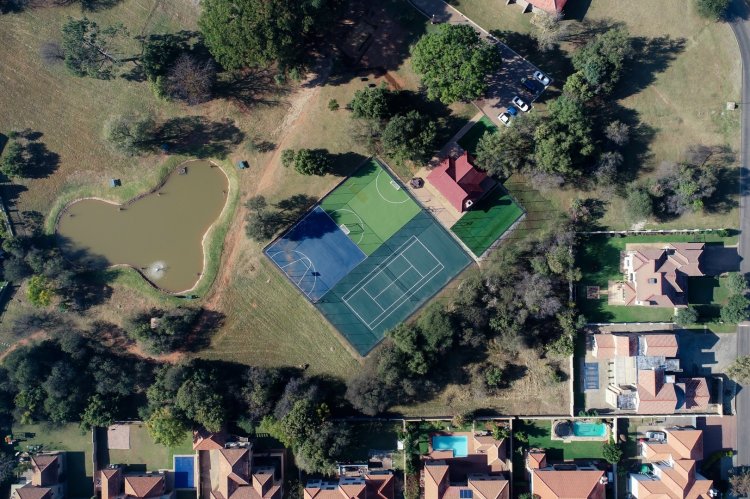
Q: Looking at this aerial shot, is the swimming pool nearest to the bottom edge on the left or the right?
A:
left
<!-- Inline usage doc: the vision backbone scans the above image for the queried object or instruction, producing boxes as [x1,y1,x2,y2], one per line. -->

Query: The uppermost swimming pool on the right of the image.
[584,361,600,390]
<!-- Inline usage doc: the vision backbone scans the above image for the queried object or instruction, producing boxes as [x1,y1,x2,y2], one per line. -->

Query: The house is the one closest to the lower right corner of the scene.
[631,424,713,499]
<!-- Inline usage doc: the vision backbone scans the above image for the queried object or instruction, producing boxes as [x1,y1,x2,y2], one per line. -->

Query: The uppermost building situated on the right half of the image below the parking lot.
[426,151,489,213]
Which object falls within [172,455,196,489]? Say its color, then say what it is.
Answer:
blue swimming pool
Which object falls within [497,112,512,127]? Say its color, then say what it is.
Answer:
white car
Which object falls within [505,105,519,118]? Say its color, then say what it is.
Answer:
blue vehicle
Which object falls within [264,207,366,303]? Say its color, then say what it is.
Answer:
blue basketball court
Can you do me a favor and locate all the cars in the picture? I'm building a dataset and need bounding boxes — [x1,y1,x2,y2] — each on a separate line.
[521,78,539,94]
[505,105,519,118]
[533,70,552,86]
[512,96,529,111]
[497,112,512,127]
